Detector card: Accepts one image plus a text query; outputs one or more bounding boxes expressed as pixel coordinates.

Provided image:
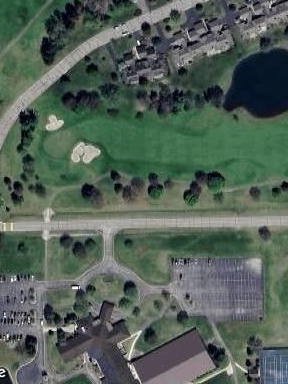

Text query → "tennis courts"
[279,349,288,384]
[260,349,279,384]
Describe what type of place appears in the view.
golf course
